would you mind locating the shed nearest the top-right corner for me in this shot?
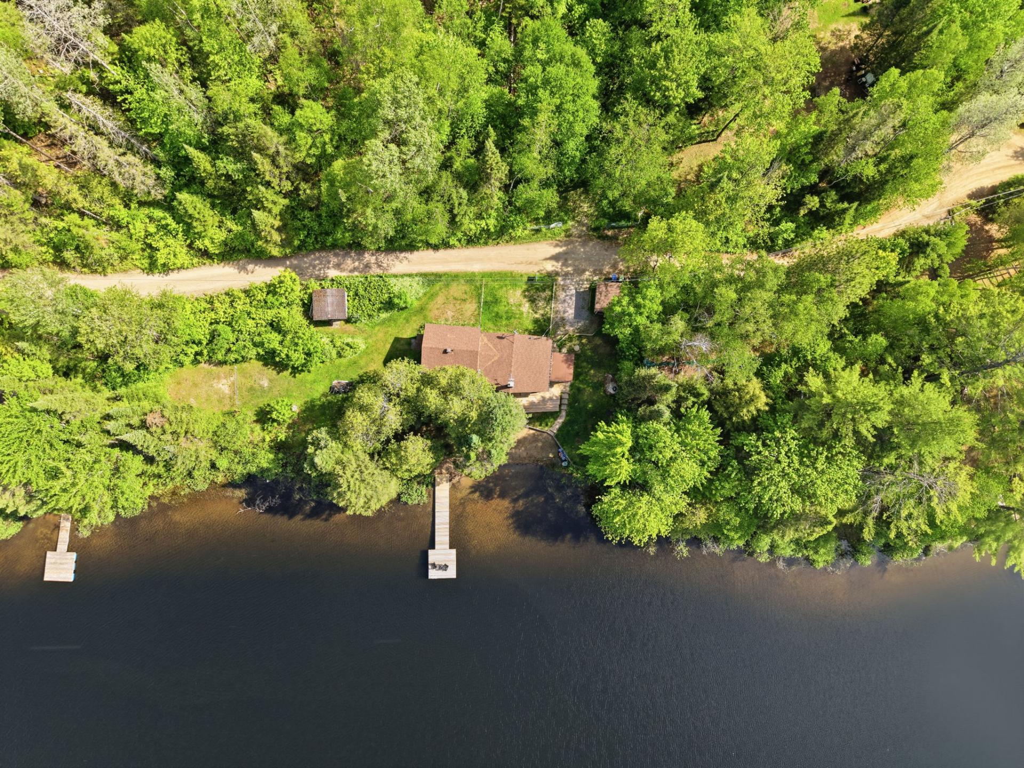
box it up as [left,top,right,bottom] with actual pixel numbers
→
[593,280,621,313]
